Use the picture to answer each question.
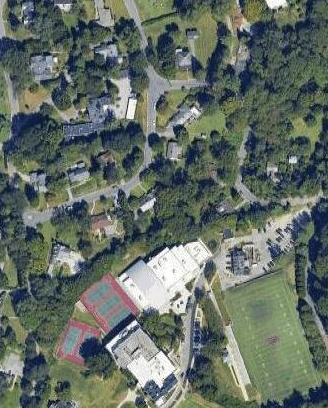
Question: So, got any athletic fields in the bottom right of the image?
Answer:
Yes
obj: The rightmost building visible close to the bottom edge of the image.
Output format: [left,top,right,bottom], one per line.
[103,318,180,405]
